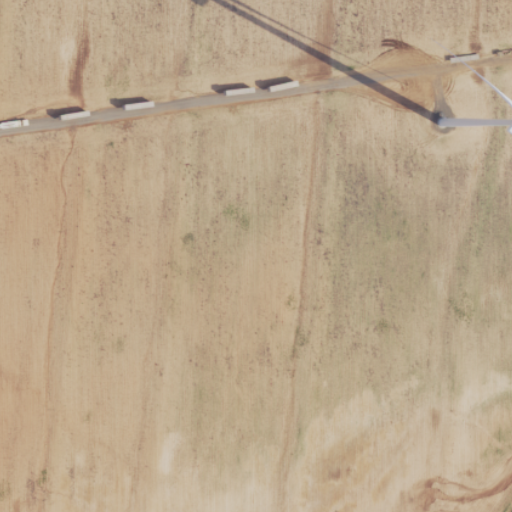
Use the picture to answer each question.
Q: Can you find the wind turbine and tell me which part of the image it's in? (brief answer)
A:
top right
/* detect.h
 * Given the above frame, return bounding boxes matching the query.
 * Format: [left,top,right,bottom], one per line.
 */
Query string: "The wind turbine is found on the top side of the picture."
[434,40,512,132]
